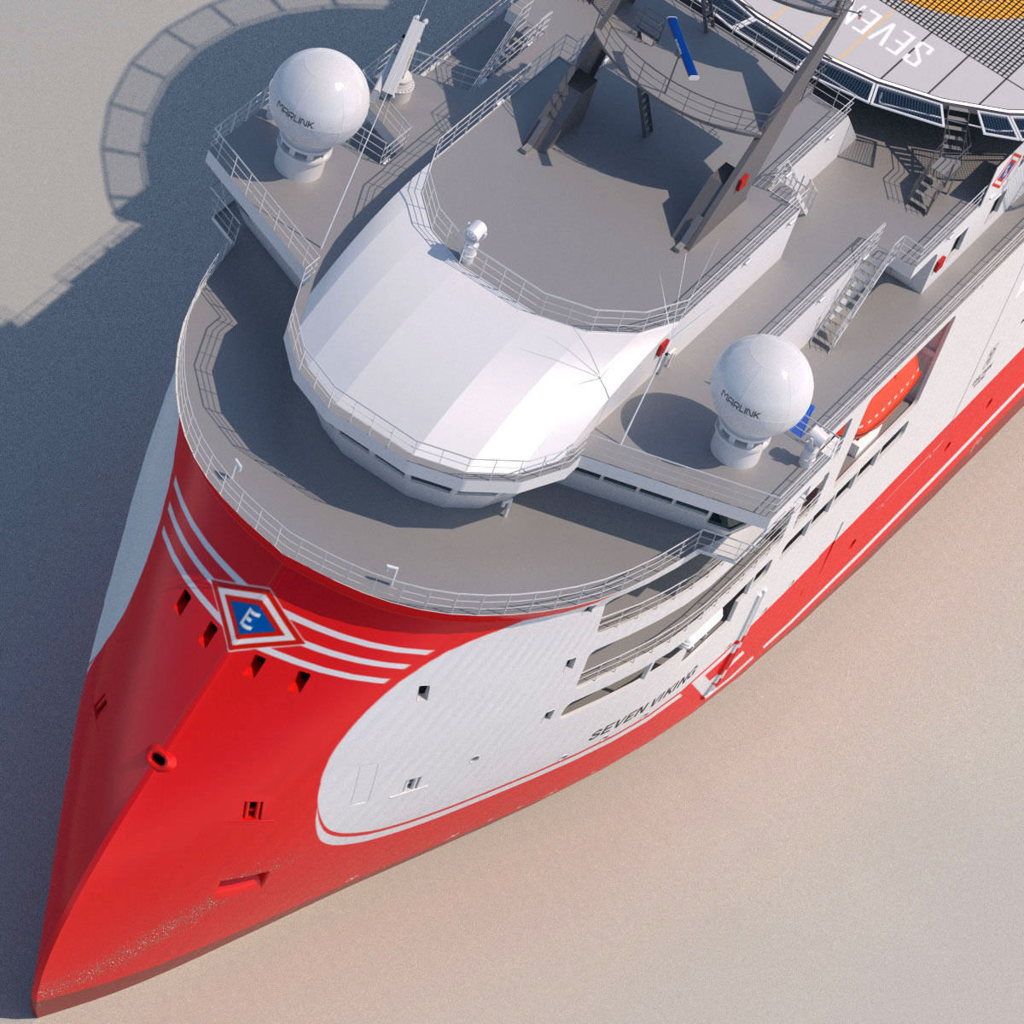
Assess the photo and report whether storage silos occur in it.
No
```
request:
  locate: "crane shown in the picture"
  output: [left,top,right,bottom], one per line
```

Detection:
[362,0,439,112]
